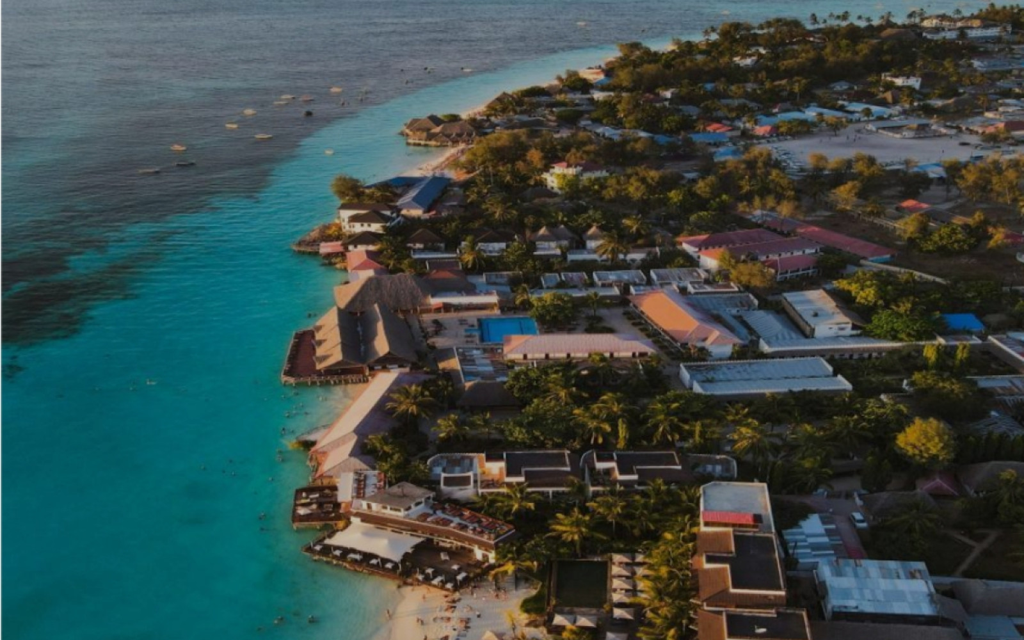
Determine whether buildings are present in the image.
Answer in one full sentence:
Yes, this view includes a building.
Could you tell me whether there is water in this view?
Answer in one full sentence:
Yes, there is water in the image.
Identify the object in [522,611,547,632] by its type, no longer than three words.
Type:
umbrella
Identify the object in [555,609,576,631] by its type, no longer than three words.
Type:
umbrella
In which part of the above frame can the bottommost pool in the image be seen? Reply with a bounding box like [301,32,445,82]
[544,555,614,615]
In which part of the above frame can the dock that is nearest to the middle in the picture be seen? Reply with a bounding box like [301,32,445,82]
[282,324,371,392]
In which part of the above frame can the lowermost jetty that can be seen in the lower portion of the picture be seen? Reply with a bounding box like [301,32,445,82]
[292,489,348,536]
